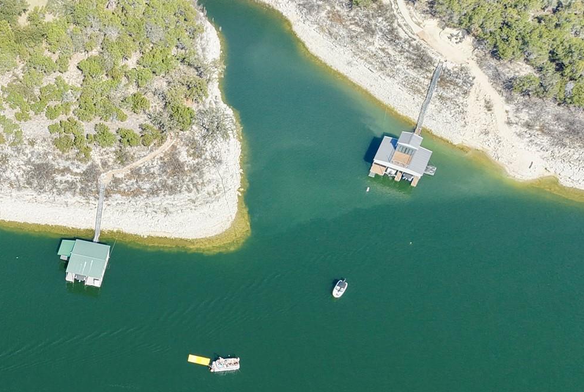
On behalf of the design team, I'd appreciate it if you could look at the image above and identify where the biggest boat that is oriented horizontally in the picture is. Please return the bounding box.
[208,358,242,372]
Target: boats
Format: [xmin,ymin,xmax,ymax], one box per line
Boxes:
[335,279,349,299]
[402,171,414,184]
[208,358,242,372]
[385,165,398,179]
[77,275,86,286]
